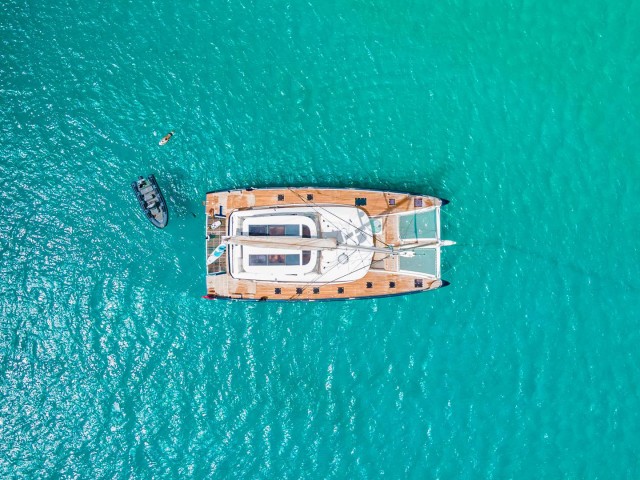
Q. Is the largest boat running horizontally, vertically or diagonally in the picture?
horizontally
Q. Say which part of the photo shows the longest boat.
center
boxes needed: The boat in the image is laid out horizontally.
[202,187,472,301]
